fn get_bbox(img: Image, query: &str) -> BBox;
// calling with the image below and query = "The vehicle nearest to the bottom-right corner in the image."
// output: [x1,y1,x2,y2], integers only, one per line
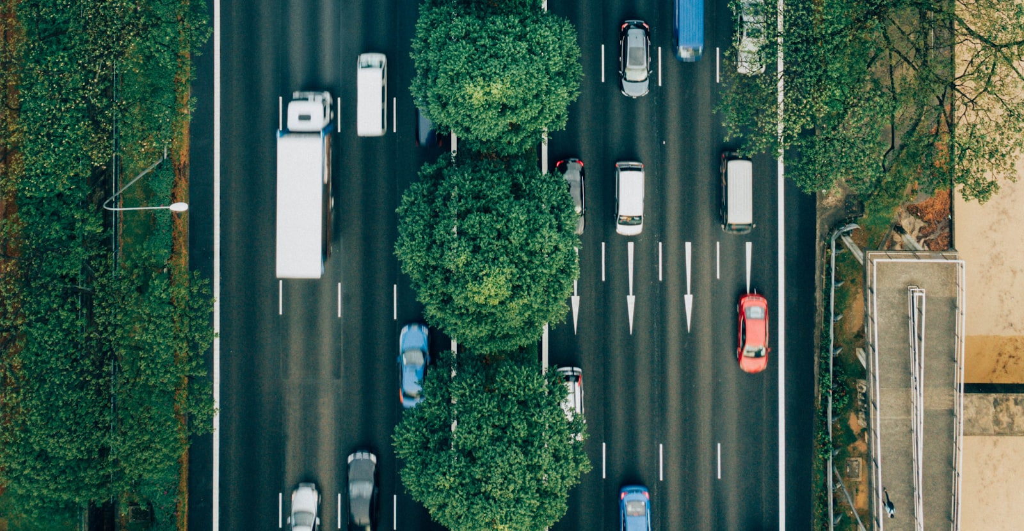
[735,293,771,373]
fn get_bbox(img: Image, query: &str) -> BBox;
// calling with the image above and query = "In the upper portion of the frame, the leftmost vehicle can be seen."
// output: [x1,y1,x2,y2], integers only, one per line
[277,90,339,278]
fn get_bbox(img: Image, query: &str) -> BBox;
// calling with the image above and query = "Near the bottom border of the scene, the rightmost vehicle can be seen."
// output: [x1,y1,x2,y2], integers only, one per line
[620,484,650,531]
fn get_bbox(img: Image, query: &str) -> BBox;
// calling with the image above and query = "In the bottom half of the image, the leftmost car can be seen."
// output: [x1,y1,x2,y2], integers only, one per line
[287,482,323,531]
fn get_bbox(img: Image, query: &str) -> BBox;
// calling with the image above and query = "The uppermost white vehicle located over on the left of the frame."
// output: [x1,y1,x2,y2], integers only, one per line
[353,53,390,139]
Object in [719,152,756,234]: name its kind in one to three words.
van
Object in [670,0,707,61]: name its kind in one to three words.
van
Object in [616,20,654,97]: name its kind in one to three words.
car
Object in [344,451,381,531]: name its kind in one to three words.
car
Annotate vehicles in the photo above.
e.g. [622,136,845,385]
[735,293,771,373]
[554,158,588,232]
[620,484,650,531]
[719,152,756,234]
[395,322,432,407]
[353,53,390,139]
[287,482,323,531]
[616,20,654,97]
[670,0,707,61]
[553,366,587,445]
[344,451,381,531]
[409,77,444,148]
[277,90,339,278]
